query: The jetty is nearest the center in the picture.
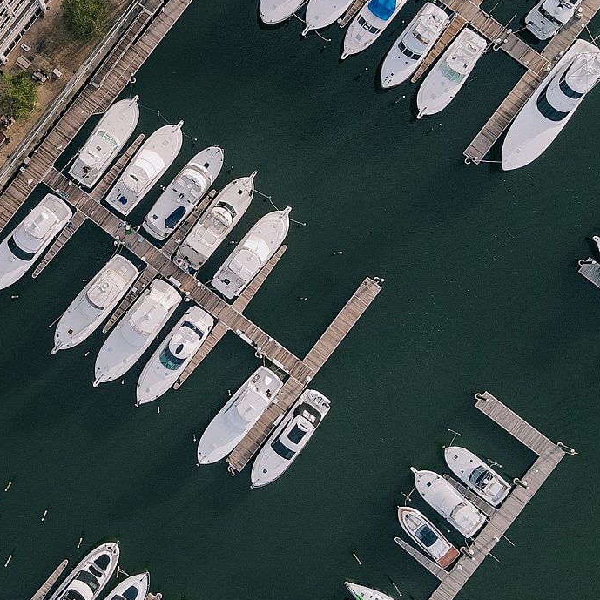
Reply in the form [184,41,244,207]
[33,133,381,470]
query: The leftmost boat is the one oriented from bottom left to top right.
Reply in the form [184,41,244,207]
[0,189,76,290]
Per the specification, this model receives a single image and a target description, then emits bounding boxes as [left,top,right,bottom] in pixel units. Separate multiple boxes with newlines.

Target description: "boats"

[418,8,520,118]
[210,207,295,301]
[395,505,460,568]
[410,467,486,536]
[49,542,121,600]
[302,0,354,35]
[380,1,469,88]
[501,14,600,169]
[104,570,150,600]
[342,579,398,600]
[443,445,510,505]
[68,94,140,189]
[249,388,326,490]
[0,189,76,290]
[196,361,287,468]
[105,121,186,218]
[342,0,405,58]
[51,252,140,354]
[93,276,182,388]
[173,171,261,274]
[140,145,226,243]
[519,0,586,44]
[135,307,212,406]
